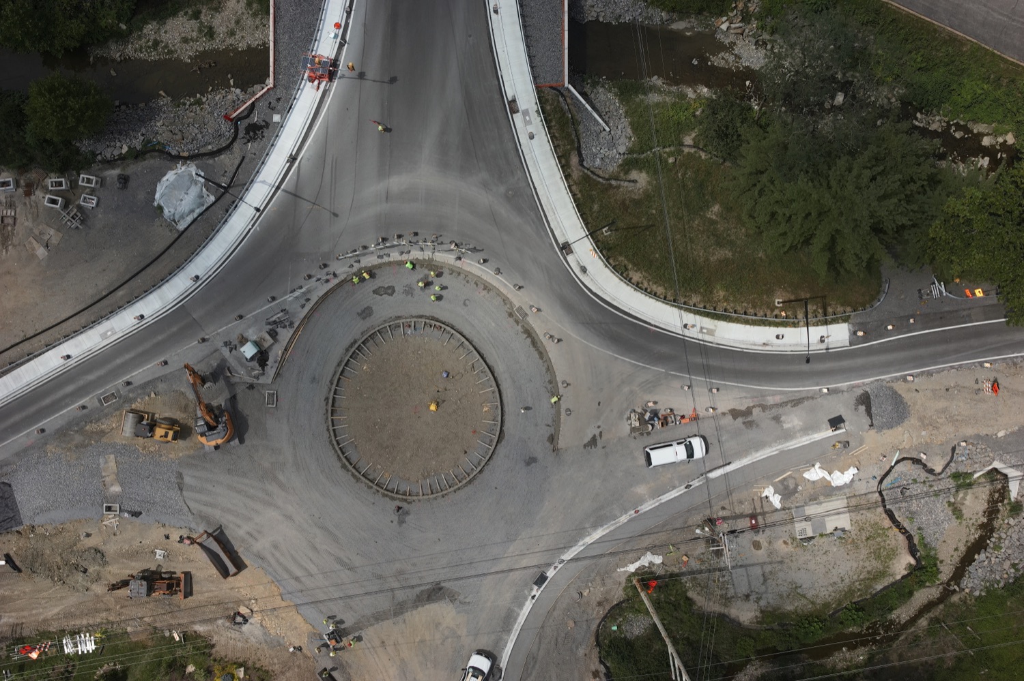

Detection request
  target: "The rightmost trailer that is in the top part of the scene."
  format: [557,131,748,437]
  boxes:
[297,55,358,92]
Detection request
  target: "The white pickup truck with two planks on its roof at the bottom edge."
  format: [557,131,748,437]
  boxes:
[462,650,491,681]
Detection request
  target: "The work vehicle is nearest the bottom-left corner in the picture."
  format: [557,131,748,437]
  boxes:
[94,572,189,604]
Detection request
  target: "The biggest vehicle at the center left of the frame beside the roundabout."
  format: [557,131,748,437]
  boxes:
[180,364,238,451]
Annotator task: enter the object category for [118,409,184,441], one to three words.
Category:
work vehicle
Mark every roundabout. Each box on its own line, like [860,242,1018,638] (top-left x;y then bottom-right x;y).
[268,251,568,557]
